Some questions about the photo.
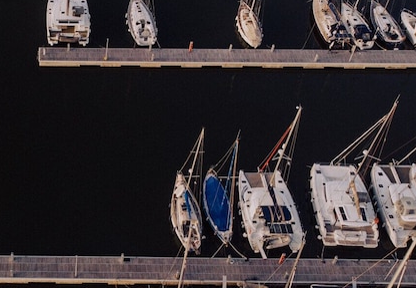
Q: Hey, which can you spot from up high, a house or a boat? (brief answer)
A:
boat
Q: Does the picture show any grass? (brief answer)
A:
No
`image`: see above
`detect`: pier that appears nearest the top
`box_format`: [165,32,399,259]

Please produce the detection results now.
[40,47,416,67]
